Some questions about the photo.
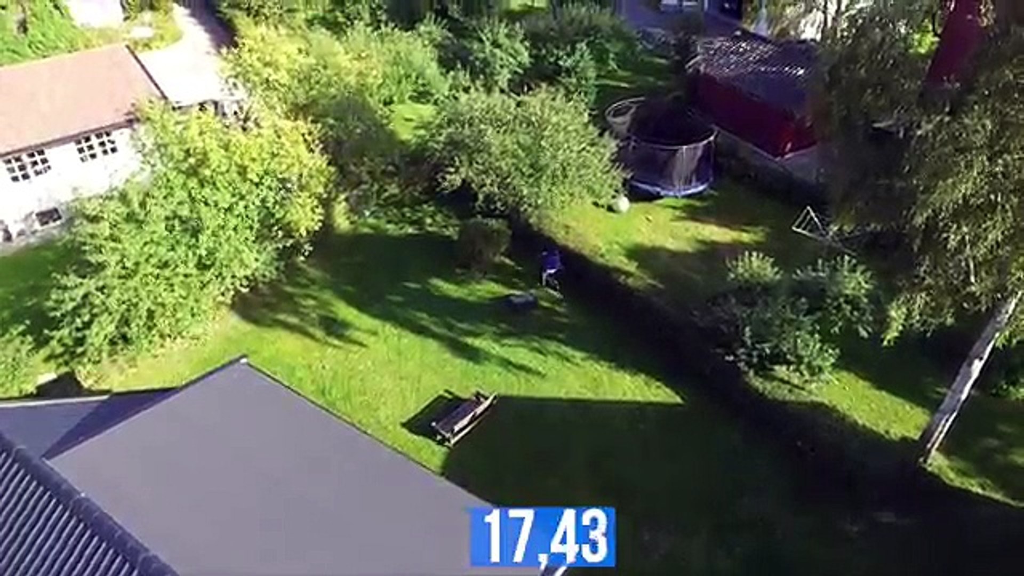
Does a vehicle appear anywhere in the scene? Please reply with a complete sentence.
No, I find no vehicle anywhere in the image.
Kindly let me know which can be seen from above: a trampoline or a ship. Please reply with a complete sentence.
The image shows a trampoline.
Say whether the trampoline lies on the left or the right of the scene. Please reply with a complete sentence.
You can find the trampoline on the right side of the picture.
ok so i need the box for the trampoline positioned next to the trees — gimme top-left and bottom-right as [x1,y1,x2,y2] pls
[629,107,721,195]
